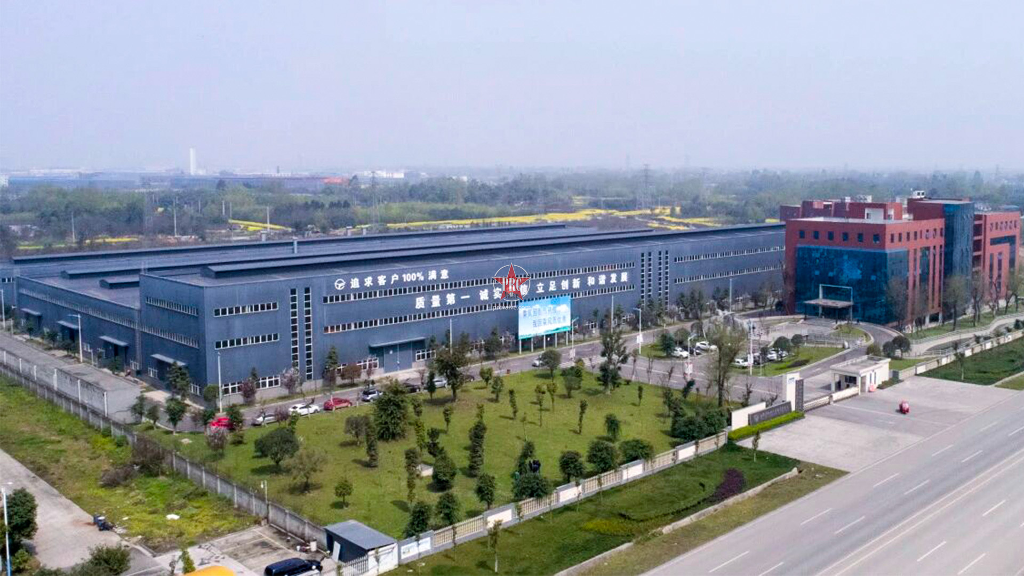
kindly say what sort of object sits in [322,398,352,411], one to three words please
vehicle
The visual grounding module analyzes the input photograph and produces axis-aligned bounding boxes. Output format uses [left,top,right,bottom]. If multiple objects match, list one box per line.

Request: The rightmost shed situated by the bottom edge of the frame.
[318,516,398,573]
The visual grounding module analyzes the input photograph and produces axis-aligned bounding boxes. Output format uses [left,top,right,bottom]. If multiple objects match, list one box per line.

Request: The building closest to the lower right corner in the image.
[825,354,906,397]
